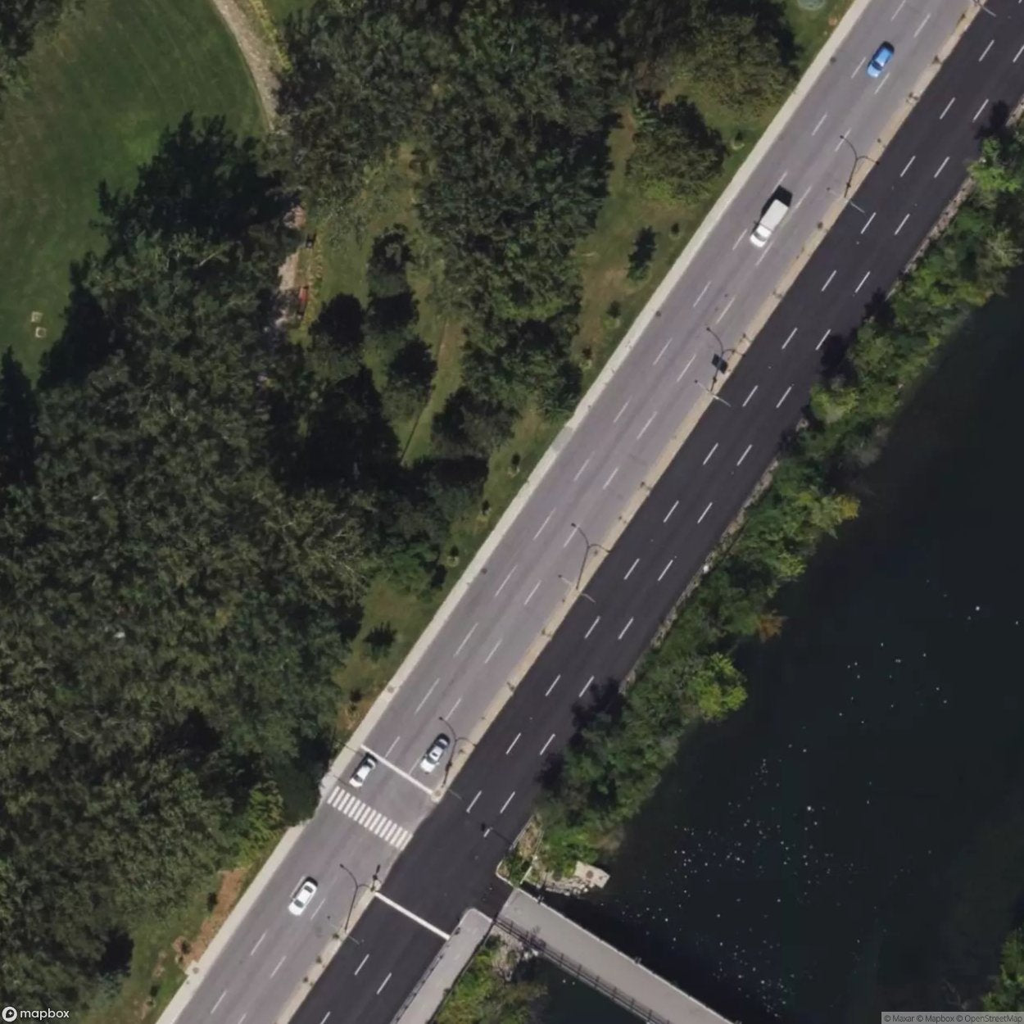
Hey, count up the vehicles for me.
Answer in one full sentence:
I count 5 vehicles.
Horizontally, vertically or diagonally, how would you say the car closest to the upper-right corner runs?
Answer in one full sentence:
Seen from above, the car closest to the upper-right corner lies diagonally.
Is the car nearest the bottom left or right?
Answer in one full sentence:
The car nearest the bottom is on the left side of the image.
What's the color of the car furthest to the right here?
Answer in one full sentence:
In this view, the car furthest to the right is blue.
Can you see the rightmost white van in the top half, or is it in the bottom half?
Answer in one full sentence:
You can find the rightmost white van in the top half.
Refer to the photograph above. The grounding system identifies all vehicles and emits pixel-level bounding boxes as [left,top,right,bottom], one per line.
[288,879,318,915]
[868,44,896,77]
[350,756,377,789]
[751,199,790,248]
[420,735,450,771]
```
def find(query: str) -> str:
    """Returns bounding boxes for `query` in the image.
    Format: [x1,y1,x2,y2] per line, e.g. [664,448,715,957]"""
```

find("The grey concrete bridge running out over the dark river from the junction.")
[494,889,731,1024]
